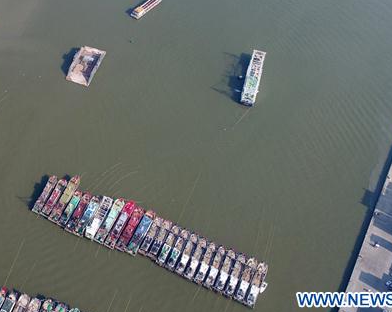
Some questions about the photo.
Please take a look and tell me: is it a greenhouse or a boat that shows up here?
boat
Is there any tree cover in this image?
No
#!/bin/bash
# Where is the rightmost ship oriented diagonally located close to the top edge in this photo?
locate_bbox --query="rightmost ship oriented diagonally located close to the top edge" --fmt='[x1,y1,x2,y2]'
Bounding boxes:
[131,0,161,20]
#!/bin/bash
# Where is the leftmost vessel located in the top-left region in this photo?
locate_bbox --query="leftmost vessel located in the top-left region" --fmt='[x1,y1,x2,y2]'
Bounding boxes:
[65,47,105,91]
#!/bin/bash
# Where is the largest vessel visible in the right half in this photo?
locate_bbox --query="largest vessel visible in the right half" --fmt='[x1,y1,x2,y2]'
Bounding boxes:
[243,47,266,112]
